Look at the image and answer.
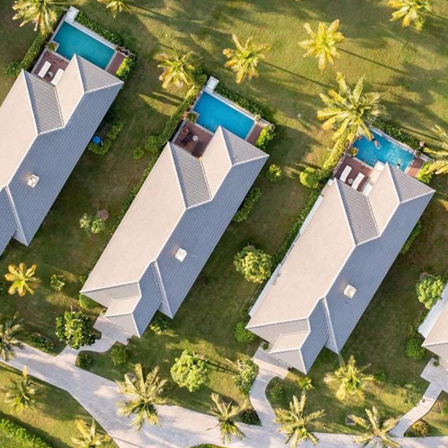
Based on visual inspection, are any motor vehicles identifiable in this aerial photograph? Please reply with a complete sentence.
No, there appears to be no motor vehicle in this shot.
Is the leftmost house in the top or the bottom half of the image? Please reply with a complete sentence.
It is in the top half that the leftmost house appears.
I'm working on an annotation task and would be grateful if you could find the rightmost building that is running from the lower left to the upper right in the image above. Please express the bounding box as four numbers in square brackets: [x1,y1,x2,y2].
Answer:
[245,160,436,373]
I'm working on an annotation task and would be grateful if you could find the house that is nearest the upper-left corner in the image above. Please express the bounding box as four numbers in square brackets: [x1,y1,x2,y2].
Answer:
[0,52,124,257]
